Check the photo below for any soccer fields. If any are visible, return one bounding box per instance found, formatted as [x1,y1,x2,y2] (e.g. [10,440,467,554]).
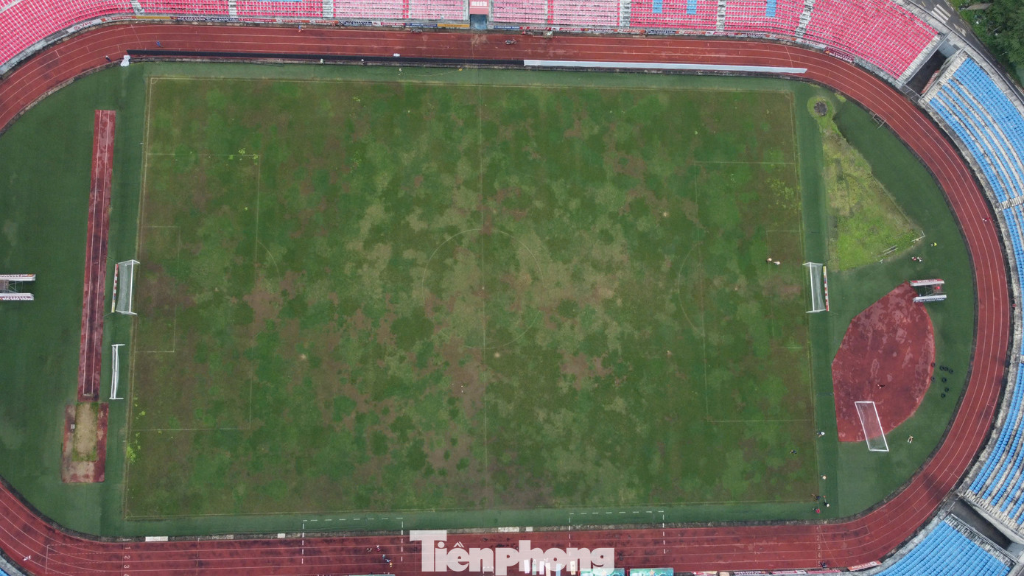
[120,76,824,520]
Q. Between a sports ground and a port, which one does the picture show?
sports ground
